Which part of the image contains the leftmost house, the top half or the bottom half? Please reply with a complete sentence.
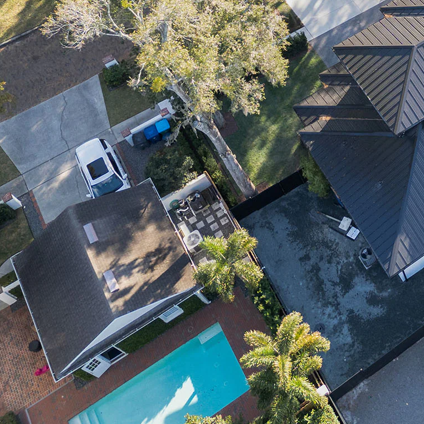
The leftmost house is in the bottom half of the image.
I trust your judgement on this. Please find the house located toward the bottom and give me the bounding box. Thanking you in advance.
[10,177,228,386]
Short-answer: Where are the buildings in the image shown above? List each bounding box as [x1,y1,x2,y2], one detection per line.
[293,0,424,282]
[10,177,228,386]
